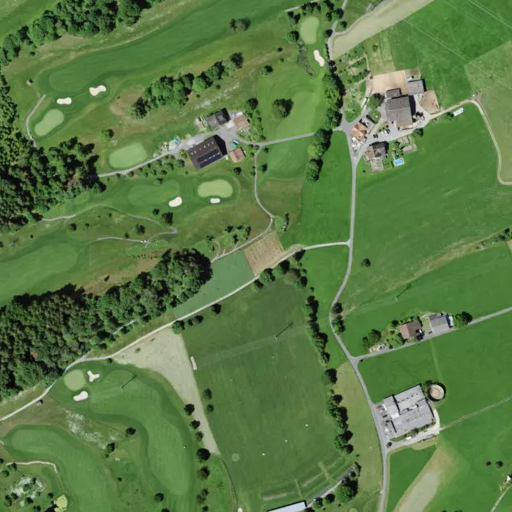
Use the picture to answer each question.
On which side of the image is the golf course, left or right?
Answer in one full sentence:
The golf course appears in the left half of the scene.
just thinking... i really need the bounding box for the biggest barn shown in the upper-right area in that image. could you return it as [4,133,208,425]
[384,96,414,127]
